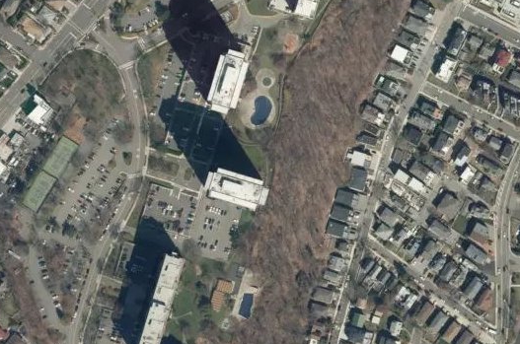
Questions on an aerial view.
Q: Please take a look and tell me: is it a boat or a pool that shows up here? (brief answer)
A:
pool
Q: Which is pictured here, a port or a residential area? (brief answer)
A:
residential area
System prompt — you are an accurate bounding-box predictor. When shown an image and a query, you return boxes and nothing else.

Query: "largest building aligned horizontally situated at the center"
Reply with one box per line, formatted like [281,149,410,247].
[205,169,271,208]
